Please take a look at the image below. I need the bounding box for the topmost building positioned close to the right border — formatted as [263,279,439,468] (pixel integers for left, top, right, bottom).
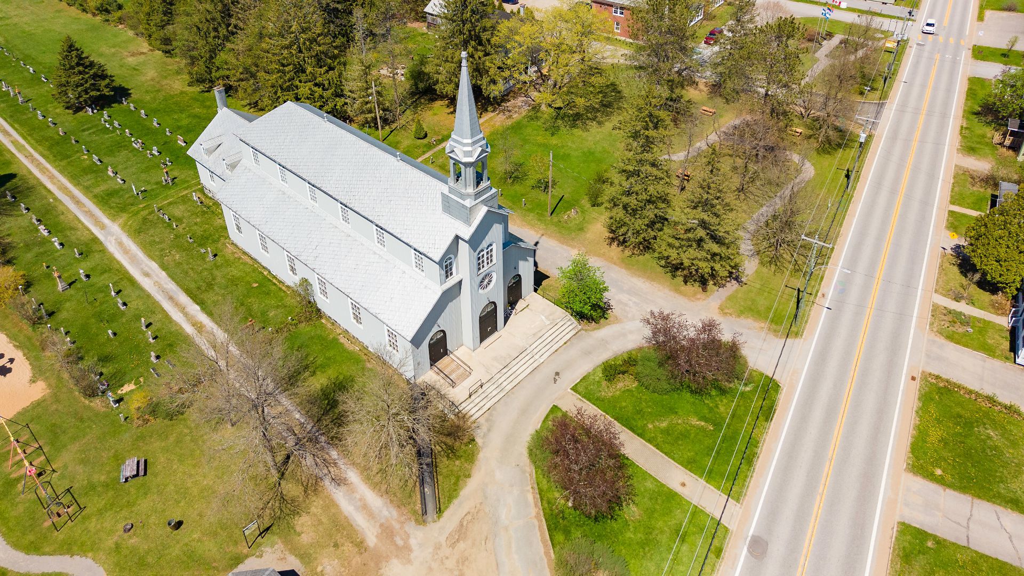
[995,105,1024,161]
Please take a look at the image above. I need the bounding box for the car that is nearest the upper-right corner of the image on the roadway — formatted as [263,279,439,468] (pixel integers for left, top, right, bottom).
[921,17,936,34]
